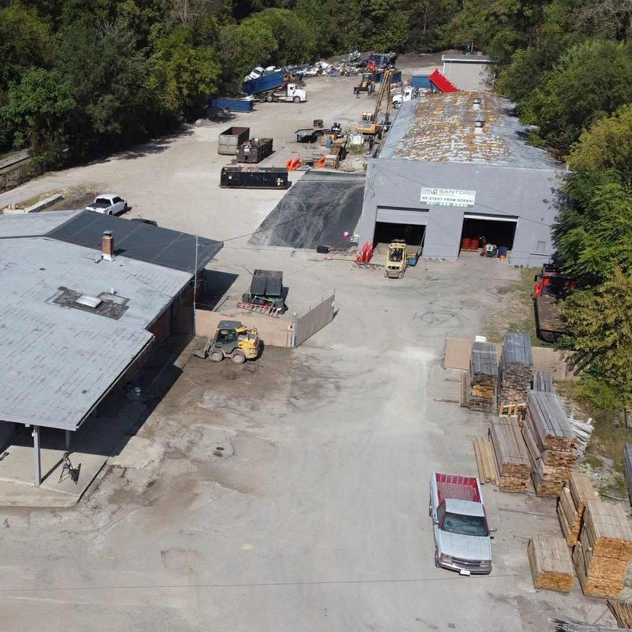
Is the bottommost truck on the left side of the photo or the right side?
right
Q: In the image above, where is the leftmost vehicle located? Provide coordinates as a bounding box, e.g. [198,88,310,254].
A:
[80,188,133,214]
